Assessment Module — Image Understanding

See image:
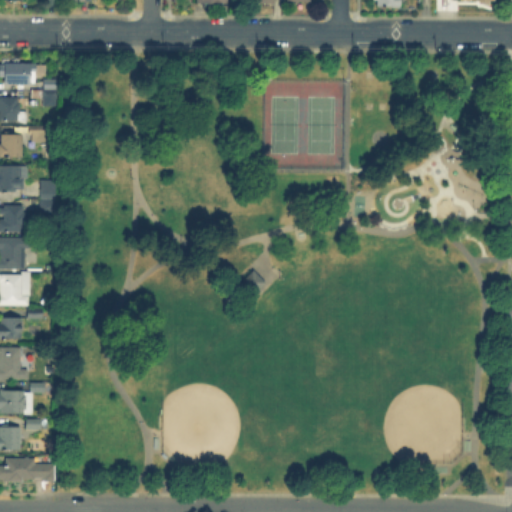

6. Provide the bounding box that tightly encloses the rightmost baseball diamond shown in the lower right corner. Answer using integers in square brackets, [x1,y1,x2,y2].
[384,385,462,466]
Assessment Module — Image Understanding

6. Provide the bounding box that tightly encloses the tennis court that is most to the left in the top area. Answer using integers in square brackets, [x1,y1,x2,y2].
[264,82,304,168]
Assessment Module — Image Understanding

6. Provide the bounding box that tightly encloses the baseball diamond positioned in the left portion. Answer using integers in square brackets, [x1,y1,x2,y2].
[164,384,241,470]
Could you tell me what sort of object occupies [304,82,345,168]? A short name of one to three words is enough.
tennis court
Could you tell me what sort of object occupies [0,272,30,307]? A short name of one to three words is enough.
house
